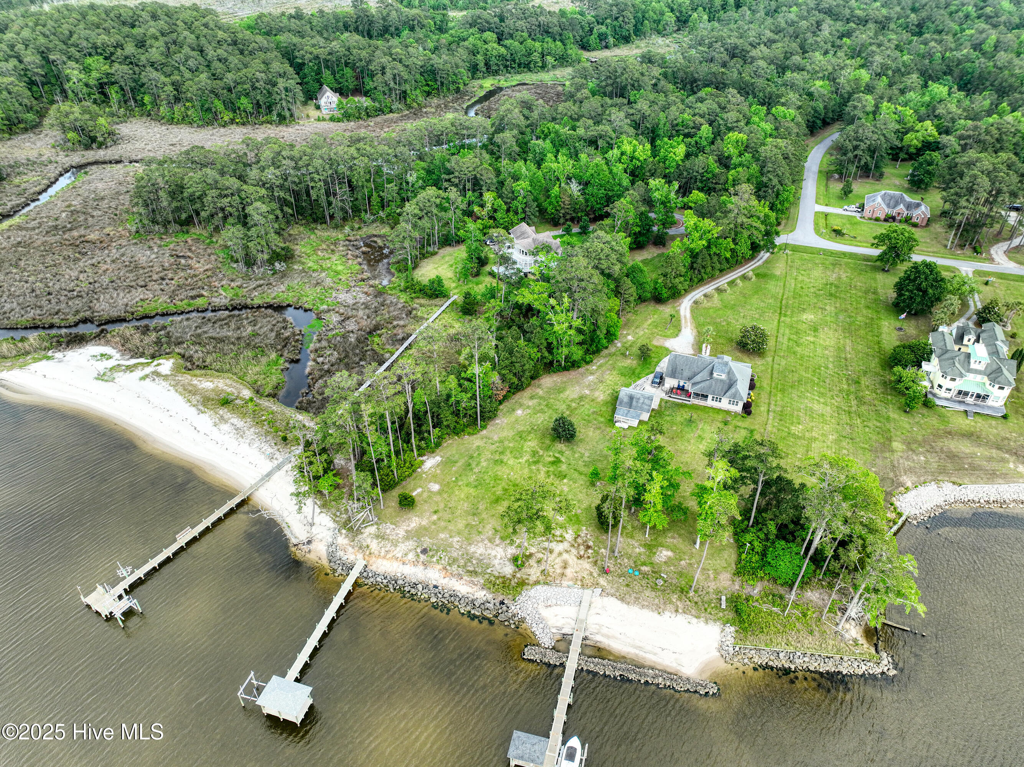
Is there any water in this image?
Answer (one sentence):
Yes, the picture does contain water.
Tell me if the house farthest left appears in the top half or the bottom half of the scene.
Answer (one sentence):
The house farthest left sits in the top half of the picture.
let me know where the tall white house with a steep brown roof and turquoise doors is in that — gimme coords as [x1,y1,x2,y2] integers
[316,86,343,115]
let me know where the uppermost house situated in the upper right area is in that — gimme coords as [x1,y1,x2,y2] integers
[864,192,930,225]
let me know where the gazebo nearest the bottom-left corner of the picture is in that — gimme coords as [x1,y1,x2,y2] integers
[248,665,315,726]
